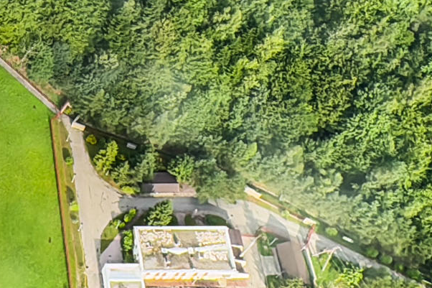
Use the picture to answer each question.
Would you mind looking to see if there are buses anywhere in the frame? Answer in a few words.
No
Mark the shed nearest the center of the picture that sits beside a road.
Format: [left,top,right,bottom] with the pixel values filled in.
[141,173,180,198]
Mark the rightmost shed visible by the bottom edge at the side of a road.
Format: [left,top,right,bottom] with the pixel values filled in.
[272,236,310,282]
